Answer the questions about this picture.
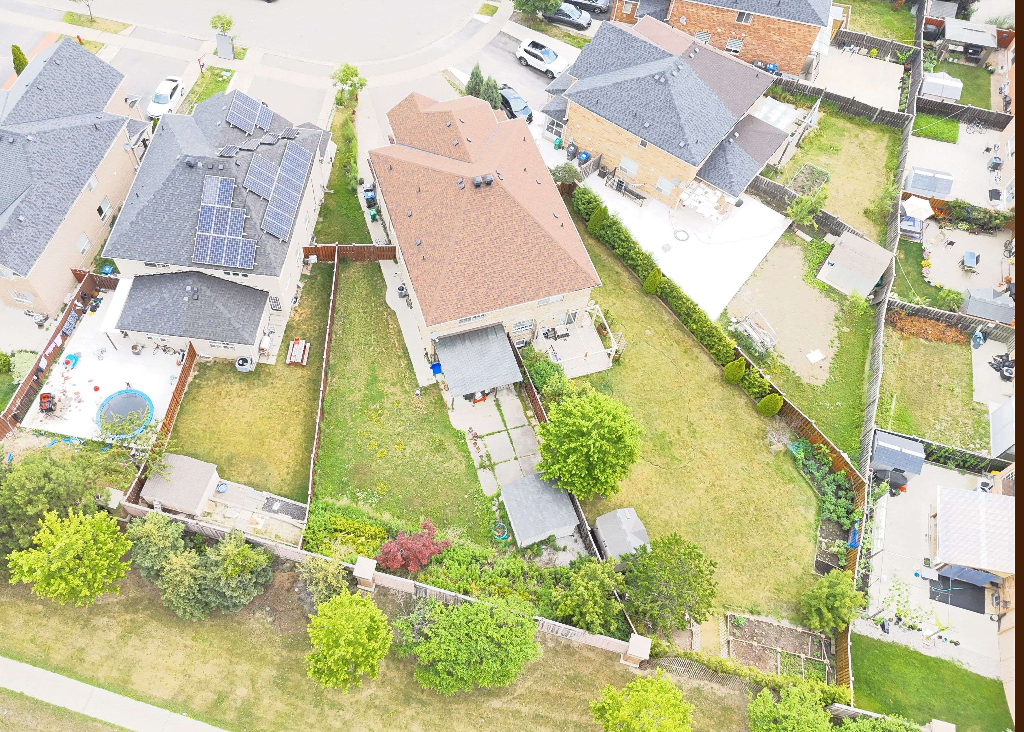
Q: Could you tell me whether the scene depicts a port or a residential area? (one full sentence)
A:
What you see here is a residential area.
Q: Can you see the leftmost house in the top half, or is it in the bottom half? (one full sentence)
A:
The top half of the photo is where the leftmost house is.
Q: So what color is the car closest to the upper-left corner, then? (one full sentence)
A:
From above, the car closest to the upper-left corner appears white.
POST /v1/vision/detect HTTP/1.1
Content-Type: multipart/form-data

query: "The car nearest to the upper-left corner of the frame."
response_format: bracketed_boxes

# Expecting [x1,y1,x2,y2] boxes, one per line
[144,75,185,118]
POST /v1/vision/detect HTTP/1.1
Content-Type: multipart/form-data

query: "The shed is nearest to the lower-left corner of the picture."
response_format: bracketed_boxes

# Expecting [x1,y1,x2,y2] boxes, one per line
[140,453,221,520]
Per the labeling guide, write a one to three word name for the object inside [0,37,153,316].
house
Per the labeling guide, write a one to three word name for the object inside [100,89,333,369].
house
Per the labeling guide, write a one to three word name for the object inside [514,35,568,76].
car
